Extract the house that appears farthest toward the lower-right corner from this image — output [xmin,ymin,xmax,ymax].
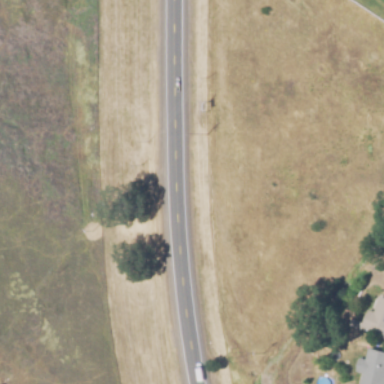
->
[352,350,384,384]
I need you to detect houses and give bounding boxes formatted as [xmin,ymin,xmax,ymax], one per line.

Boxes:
[360,292,384,346]
[352,350,384,384]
